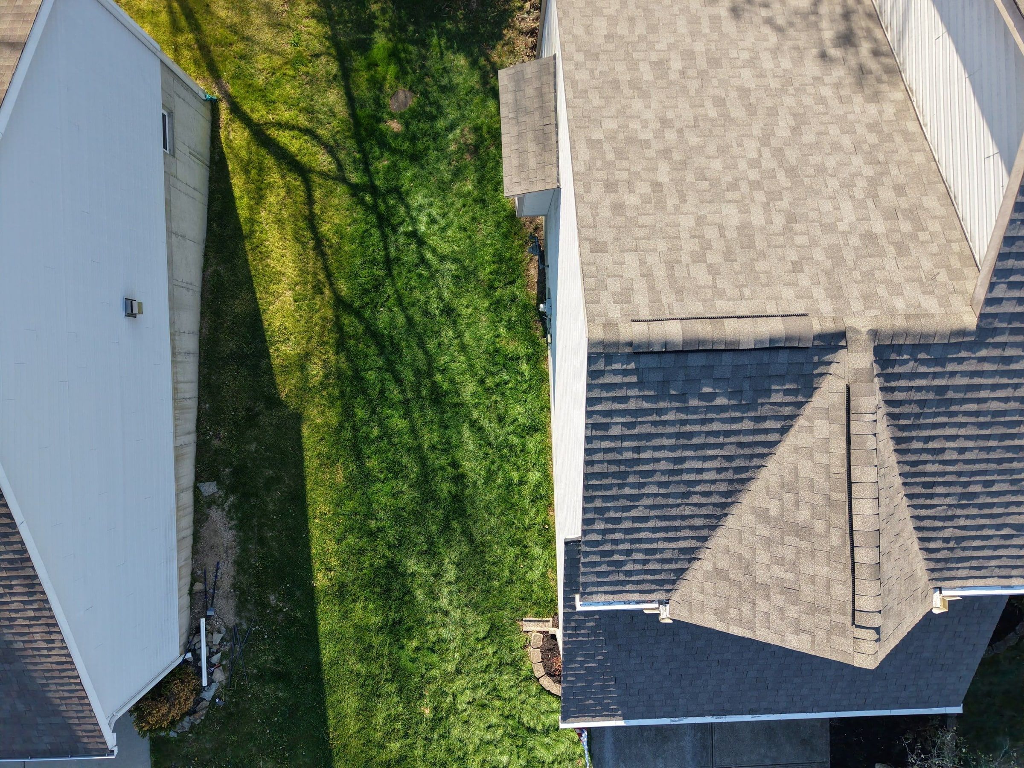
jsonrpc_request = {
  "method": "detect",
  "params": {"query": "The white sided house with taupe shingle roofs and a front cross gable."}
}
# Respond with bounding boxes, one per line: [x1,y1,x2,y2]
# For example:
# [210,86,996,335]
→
[497,0,1024,732]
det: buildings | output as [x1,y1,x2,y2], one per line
[497,0,1024,732]
[0,0,208,754]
